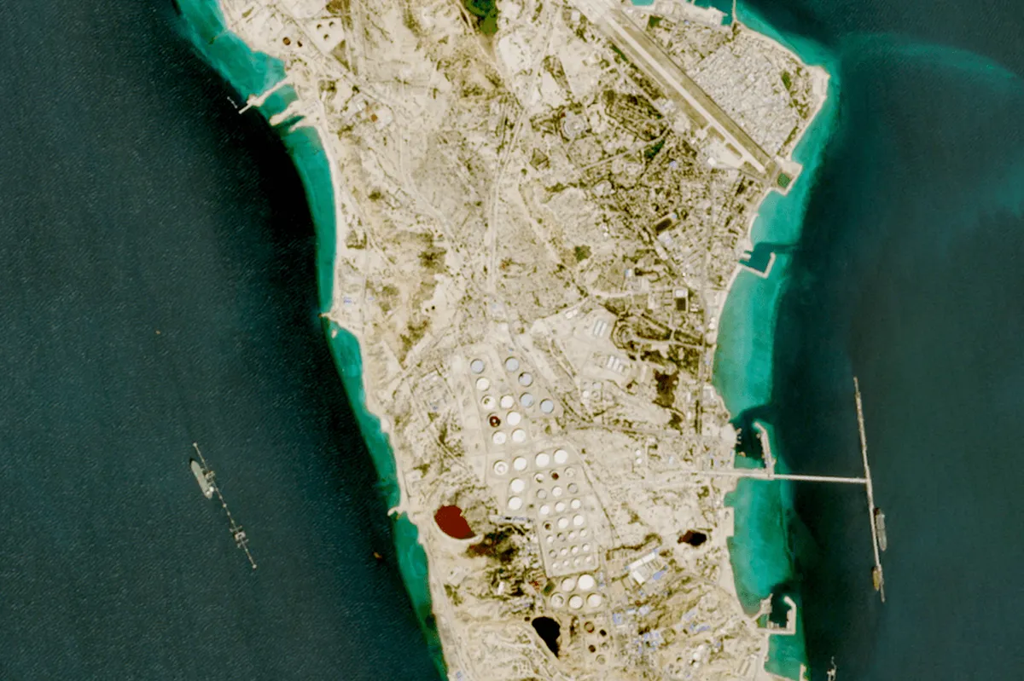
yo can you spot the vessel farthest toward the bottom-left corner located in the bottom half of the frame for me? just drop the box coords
[190,459,212,499]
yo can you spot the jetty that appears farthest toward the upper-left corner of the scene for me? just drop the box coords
[228,77,296,113]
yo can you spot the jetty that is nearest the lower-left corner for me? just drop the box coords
[193,443,256,568]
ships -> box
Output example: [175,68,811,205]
[190,459,212,499]
[876,510,887,551]
[872,568,879,591]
